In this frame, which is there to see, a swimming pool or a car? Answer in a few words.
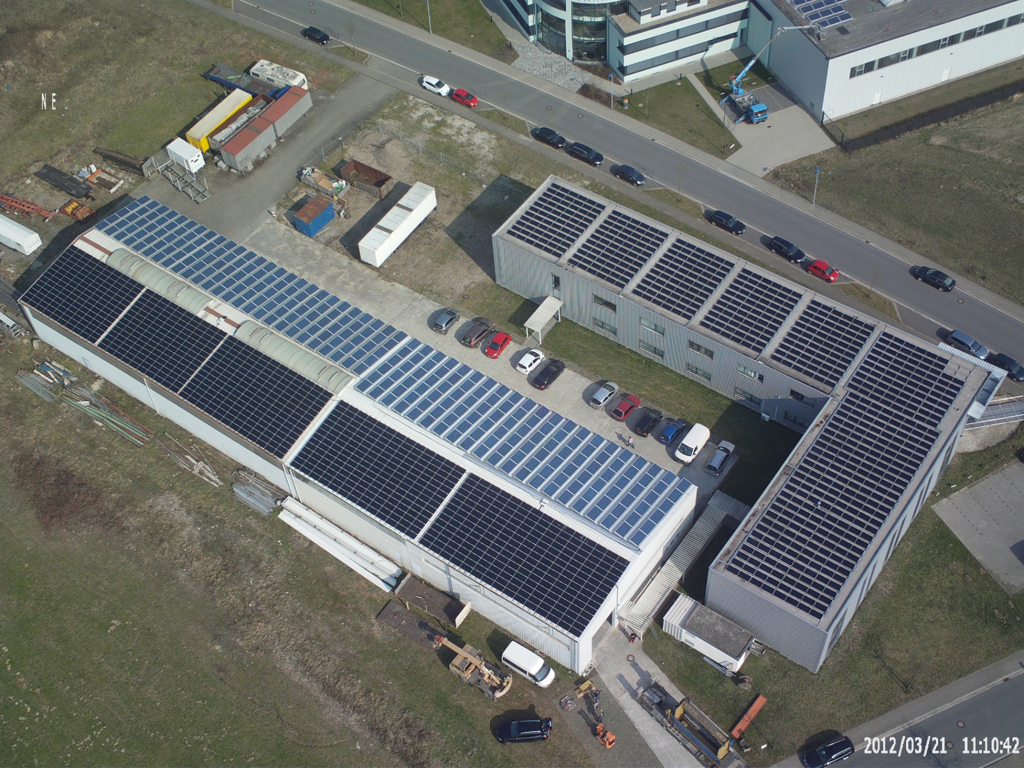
car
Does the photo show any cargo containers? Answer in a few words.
Yes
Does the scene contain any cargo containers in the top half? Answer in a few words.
Yes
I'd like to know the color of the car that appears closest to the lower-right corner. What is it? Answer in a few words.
black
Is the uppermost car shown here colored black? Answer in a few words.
Yes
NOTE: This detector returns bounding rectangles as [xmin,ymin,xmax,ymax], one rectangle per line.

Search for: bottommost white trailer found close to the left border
[0,215,42,257]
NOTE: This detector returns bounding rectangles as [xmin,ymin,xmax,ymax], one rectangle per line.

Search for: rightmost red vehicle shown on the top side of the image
[806,259,840,285]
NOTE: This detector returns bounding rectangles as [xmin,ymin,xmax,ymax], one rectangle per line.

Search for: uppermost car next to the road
[301,25,334,48]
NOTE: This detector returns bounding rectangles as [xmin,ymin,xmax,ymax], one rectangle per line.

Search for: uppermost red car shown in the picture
[450,88,480,109]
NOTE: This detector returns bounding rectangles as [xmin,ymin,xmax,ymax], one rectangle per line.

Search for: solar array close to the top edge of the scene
[789,0,852,29]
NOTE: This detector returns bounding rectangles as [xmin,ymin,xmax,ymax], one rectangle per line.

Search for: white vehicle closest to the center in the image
[514,347,546,377]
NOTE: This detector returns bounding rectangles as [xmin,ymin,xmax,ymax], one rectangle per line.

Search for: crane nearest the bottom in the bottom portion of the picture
[434,634,510,697]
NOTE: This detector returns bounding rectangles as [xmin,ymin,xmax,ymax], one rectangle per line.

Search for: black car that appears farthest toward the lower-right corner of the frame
[800,732,858,768]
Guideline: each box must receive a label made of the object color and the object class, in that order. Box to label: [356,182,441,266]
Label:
white trailer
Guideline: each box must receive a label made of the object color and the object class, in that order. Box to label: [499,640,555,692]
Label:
white van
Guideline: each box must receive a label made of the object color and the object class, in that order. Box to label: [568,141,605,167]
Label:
black car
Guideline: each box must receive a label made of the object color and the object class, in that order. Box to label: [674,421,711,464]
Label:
white van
